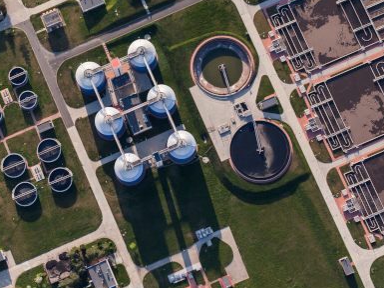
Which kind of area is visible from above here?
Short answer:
industrial area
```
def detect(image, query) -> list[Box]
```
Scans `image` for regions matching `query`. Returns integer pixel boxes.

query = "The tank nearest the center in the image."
[166,130,198,163]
